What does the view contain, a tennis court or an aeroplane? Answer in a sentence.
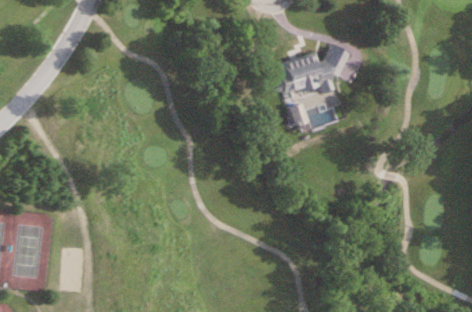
I can see a tennis court in this picture.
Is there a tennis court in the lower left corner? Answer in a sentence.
Yes, the scene does show a tennis court in the lower left corner.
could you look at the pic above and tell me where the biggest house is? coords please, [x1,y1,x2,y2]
[281,44,354,101]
